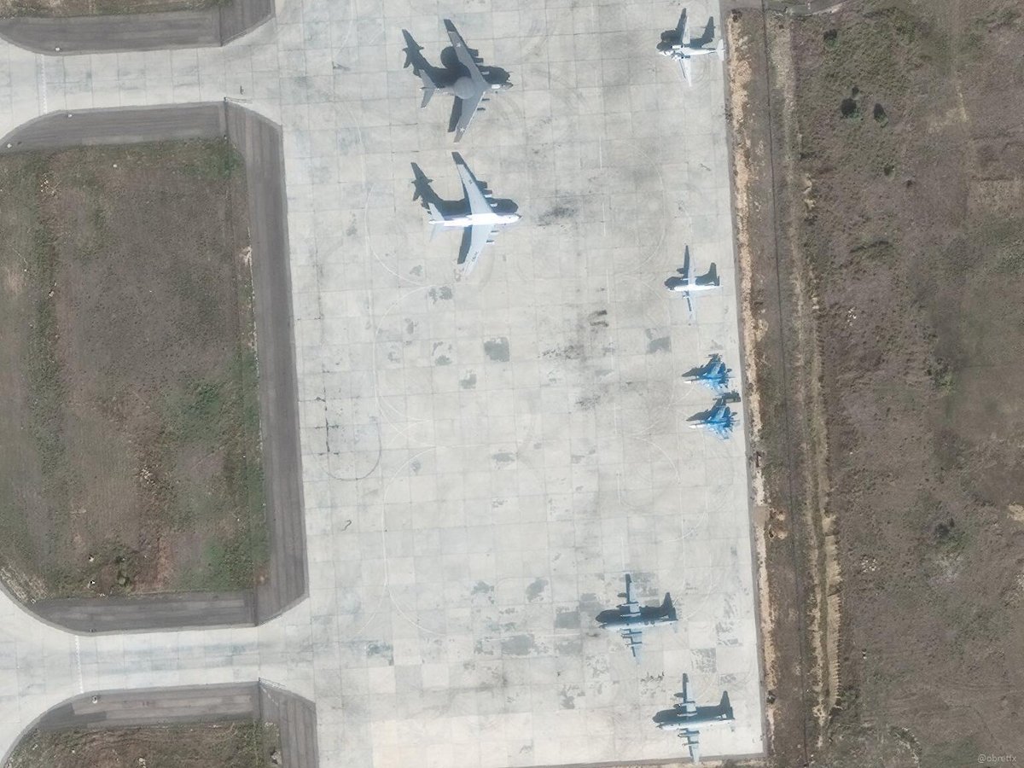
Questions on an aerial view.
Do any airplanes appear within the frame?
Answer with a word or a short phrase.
Yes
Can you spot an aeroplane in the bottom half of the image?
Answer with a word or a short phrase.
Yes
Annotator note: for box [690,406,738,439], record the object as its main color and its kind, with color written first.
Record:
blue airplane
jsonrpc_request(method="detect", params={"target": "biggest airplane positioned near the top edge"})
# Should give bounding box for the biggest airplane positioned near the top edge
[418,33,517,144]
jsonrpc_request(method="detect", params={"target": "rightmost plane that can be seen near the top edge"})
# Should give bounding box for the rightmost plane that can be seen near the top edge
[659,17,727,86]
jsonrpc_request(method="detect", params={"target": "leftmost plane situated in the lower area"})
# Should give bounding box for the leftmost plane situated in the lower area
[599,583,677,665]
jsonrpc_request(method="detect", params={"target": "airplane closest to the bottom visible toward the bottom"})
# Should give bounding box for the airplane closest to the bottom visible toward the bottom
[657,682,736,764]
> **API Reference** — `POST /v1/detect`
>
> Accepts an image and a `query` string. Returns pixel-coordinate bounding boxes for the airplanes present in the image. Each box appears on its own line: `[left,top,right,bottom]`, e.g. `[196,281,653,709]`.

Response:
[684,362,733,395]
[599,583,677,665]
[669,256,722,320]
[427,166,522,276]
[659,17,727,86]
[657,682,736,764]
[690,406,738,439]
[418,33,517,144]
